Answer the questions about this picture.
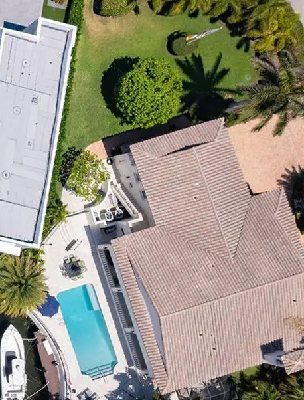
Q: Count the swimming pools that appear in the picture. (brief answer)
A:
1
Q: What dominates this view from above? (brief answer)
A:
buildings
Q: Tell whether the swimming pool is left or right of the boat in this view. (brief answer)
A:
right of it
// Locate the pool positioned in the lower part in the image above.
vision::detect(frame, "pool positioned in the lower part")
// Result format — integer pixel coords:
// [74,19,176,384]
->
[57,283,119,382]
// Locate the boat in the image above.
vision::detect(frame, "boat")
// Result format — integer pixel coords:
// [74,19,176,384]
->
[0,325,38,400]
